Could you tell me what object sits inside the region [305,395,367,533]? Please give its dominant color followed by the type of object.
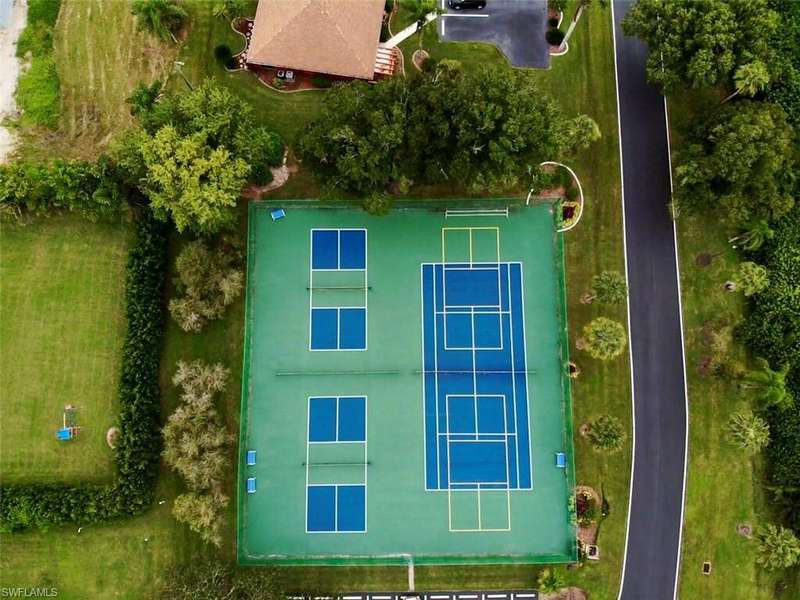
blue sports court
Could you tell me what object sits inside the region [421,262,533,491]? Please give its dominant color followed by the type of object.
blue tennis court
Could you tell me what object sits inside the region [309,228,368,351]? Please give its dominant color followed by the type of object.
blue sports court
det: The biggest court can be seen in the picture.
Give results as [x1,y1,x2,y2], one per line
[246,206,568,558]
